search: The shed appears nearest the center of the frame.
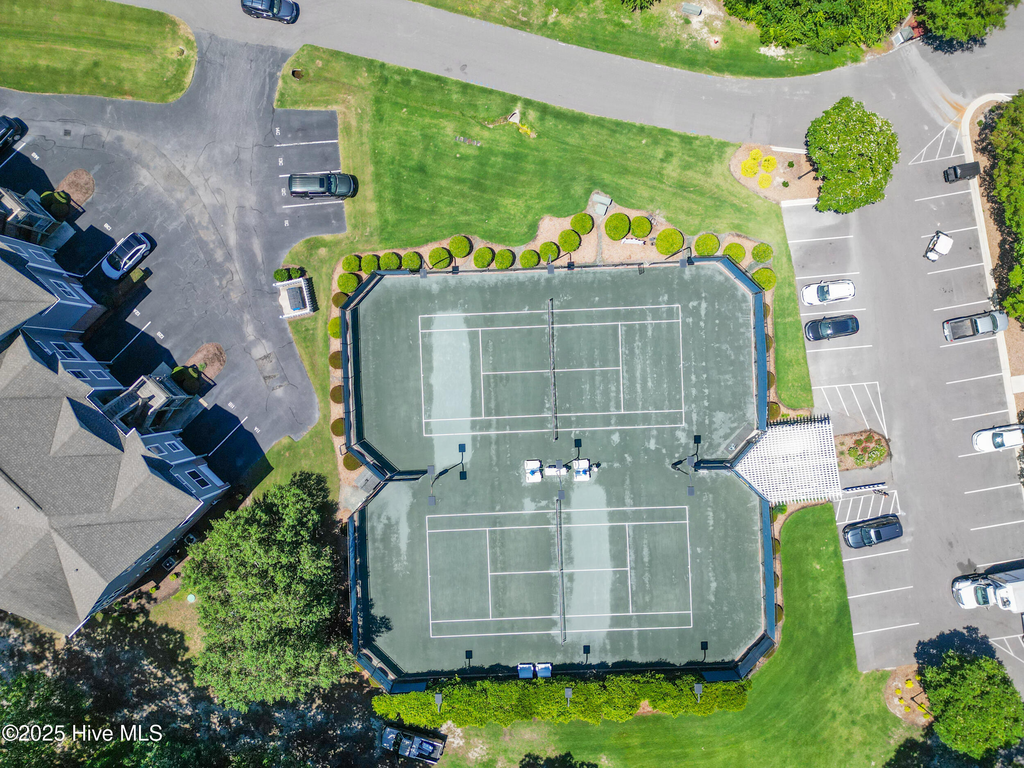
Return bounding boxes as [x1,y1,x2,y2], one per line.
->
[354,467,381,493]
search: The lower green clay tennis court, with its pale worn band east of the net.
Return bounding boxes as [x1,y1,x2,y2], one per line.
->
[353,464,766,681]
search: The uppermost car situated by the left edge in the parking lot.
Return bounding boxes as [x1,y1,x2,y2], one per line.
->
[0,114,29,165]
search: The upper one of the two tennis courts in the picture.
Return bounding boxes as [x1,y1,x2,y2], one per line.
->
[347,261,759,477]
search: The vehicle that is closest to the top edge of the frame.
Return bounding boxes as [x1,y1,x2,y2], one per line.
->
[238,0,296,25]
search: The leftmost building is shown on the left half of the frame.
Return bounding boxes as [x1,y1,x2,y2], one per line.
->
[0,175,227,638]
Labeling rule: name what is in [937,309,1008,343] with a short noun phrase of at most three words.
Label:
truck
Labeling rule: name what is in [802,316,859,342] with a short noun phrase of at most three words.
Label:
car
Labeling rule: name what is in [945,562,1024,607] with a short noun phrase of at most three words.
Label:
camper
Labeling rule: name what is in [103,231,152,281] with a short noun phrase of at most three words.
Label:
car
